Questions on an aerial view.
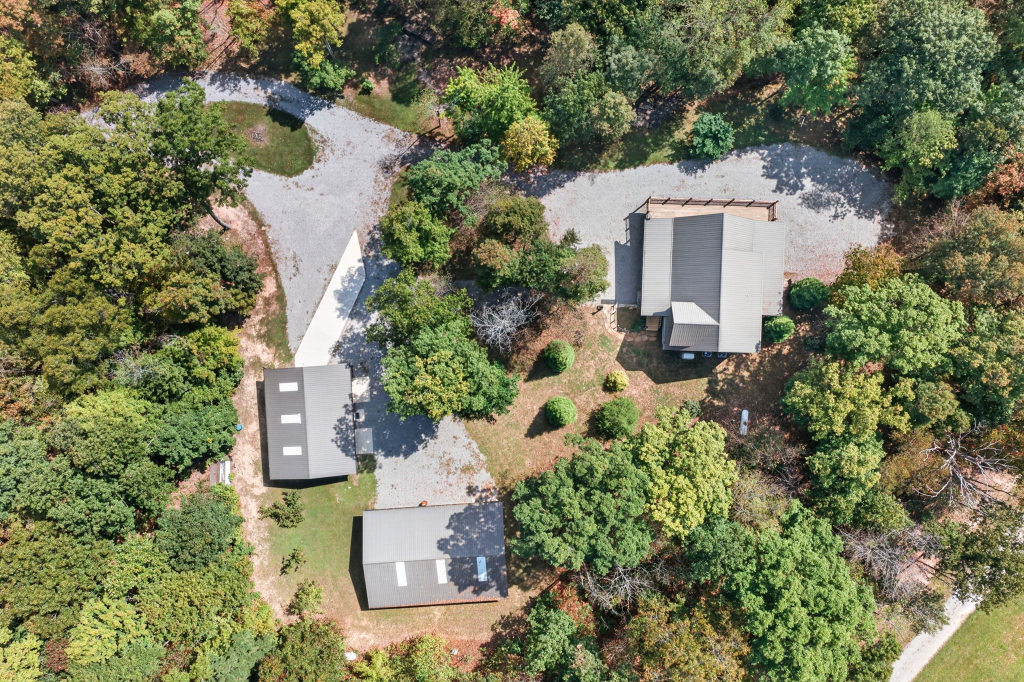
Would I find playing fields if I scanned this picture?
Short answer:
No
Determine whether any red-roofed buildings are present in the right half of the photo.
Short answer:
No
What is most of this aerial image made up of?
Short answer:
trees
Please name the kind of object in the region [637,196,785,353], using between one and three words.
house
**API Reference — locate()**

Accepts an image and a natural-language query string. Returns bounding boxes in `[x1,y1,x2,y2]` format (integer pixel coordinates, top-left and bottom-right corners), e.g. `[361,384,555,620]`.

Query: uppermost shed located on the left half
[262,364,361,480]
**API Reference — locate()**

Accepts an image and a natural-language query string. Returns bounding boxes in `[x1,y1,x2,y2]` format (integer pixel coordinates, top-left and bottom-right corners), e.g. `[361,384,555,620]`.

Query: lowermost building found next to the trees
[362,498,508,610]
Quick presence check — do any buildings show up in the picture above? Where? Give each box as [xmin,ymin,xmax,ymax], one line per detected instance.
[362,498,508,610]
[262,364,361,480]
[637,196,785,353]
